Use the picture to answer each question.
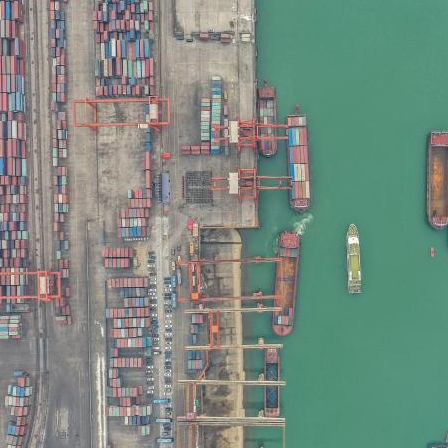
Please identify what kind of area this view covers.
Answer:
port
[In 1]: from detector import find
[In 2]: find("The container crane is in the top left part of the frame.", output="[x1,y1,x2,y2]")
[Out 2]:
[74,98,170,136]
